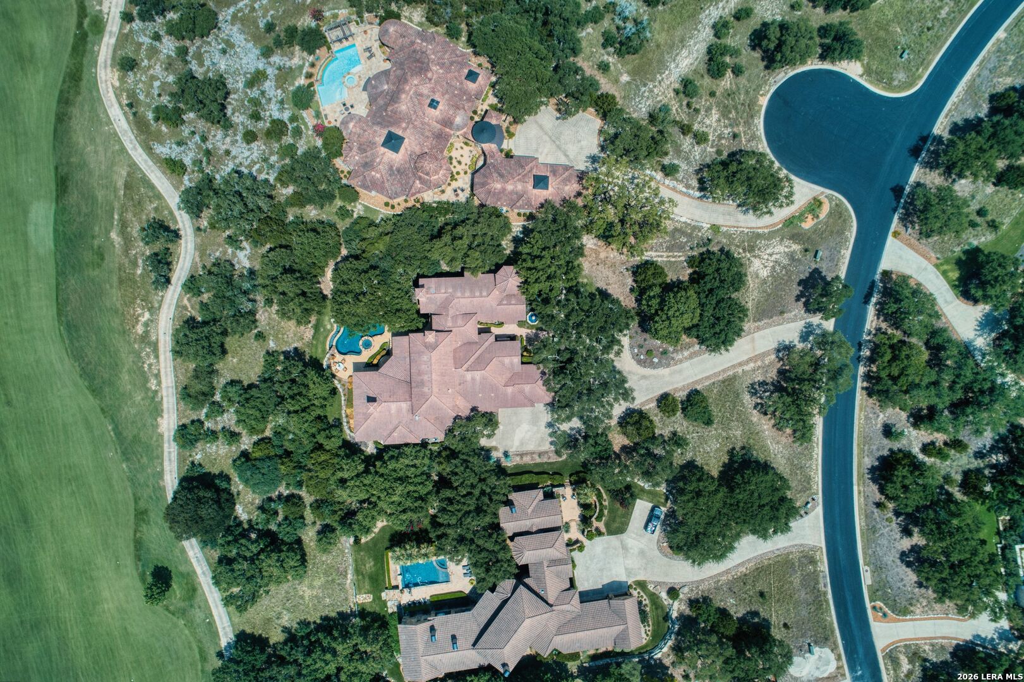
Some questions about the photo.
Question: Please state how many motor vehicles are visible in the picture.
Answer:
1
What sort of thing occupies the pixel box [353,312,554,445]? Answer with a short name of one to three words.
house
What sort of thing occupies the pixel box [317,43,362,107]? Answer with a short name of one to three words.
swimming pool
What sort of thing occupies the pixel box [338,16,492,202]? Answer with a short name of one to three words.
house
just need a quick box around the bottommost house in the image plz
[397,561,643,682]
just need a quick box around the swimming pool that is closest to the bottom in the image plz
[399,557,451,590]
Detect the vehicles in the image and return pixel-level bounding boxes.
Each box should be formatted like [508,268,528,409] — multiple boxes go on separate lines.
[643,506,665,535]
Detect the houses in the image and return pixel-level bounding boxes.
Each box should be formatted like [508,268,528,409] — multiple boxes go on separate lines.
[353,312,554,445]
[499,488,563,537]
[338,16,492,202]
[397,561,643,682]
